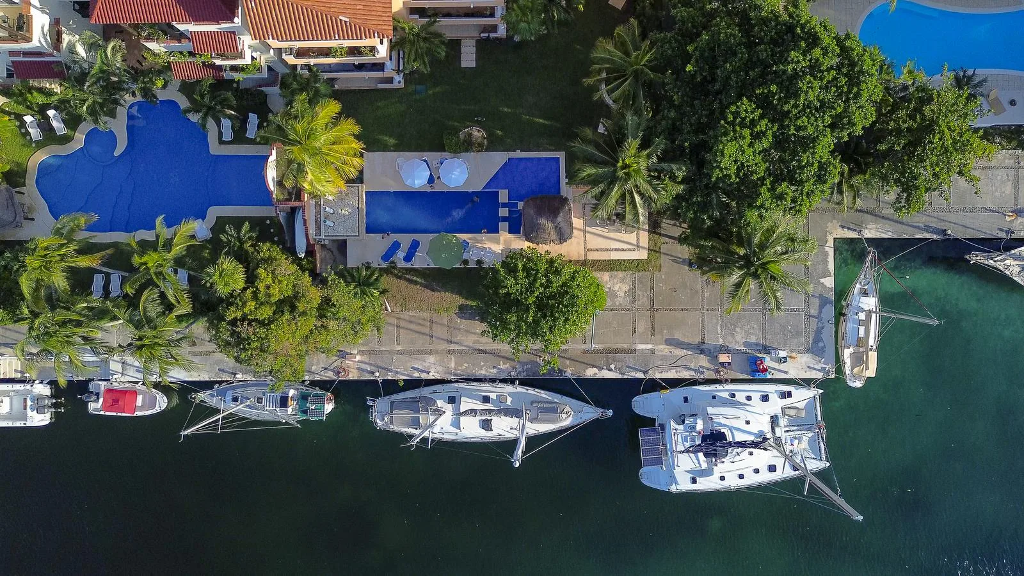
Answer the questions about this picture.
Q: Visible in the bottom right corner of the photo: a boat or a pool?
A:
boat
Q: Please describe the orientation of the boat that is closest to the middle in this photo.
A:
from side to side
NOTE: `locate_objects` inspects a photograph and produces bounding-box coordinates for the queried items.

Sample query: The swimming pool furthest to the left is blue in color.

[26,91,280,240]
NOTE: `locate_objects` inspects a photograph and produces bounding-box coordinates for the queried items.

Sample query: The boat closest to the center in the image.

[367,383,612,469]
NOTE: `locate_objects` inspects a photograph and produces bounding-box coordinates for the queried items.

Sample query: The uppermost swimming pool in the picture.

[854,0,1024,84]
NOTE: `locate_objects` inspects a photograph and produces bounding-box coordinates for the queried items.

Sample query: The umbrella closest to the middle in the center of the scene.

[428,232,466,270]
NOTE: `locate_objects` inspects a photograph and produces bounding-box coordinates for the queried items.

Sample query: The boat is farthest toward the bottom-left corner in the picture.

[0,383,63,427]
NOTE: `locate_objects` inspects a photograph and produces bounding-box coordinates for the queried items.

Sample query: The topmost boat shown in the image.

[961,246,1024,287]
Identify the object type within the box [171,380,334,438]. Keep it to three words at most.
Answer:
boat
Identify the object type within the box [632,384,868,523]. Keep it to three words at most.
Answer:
boat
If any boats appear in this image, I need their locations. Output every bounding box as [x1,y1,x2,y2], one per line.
[839,247,941,387]
[367,383,612,469]
[72,380,172,416]
[632,384,868,523]
[961,246,1024,287]
[171,380,334,438]
[0,383,63,427]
